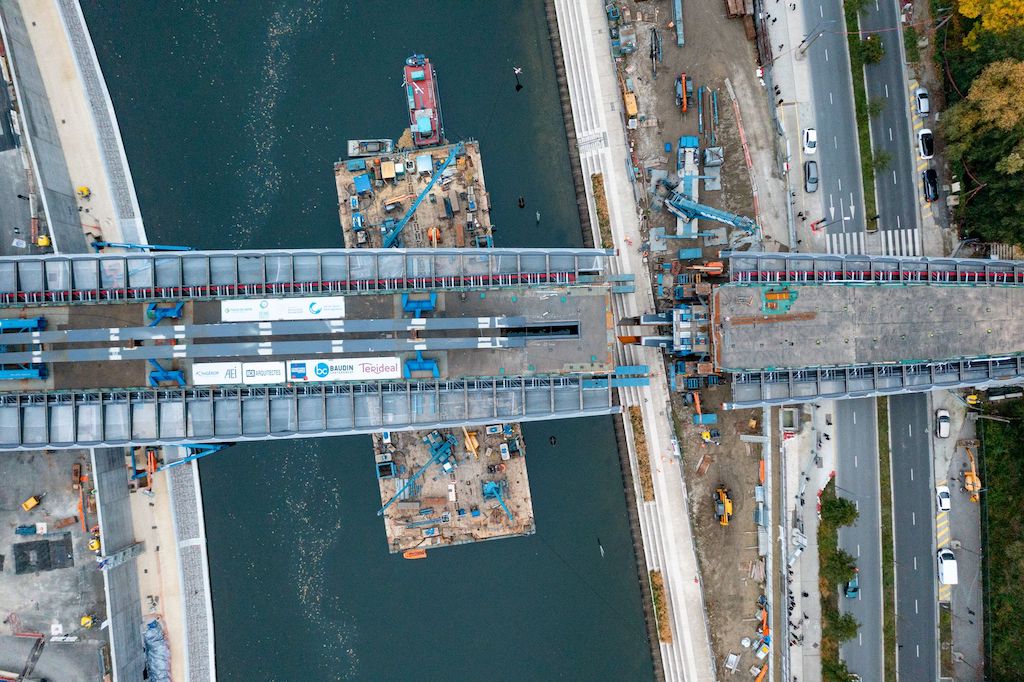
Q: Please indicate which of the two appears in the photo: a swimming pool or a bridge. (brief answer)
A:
bridge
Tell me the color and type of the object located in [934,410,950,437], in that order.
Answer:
white car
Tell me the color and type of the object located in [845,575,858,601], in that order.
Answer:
blue vehicle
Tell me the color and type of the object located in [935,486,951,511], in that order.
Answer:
white car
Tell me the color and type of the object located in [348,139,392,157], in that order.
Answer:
gray boat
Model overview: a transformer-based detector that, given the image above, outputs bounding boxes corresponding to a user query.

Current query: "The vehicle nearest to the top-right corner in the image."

[913,88,929,116]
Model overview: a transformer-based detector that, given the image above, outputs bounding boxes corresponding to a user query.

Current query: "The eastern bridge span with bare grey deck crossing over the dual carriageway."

[707,251,1024,411]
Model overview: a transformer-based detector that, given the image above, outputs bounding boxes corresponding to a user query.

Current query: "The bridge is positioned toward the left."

[0,249,624,450]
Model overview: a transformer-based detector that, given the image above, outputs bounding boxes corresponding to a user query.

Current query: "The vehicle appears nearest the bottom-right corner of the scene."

[937,548,958,586]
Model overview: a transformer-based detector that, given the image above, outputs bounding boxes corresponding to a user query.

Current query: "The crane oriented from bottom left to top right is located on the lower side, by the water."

[375,430,459,517]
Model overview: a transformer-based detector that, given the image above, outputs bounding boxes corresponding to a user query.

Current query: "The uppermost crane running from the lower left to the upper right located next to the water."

[373,140,465,247]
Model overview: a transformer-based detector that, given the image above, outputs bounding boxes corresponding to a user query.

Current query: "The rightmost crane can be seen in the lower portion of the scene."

[479,478,515,523]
